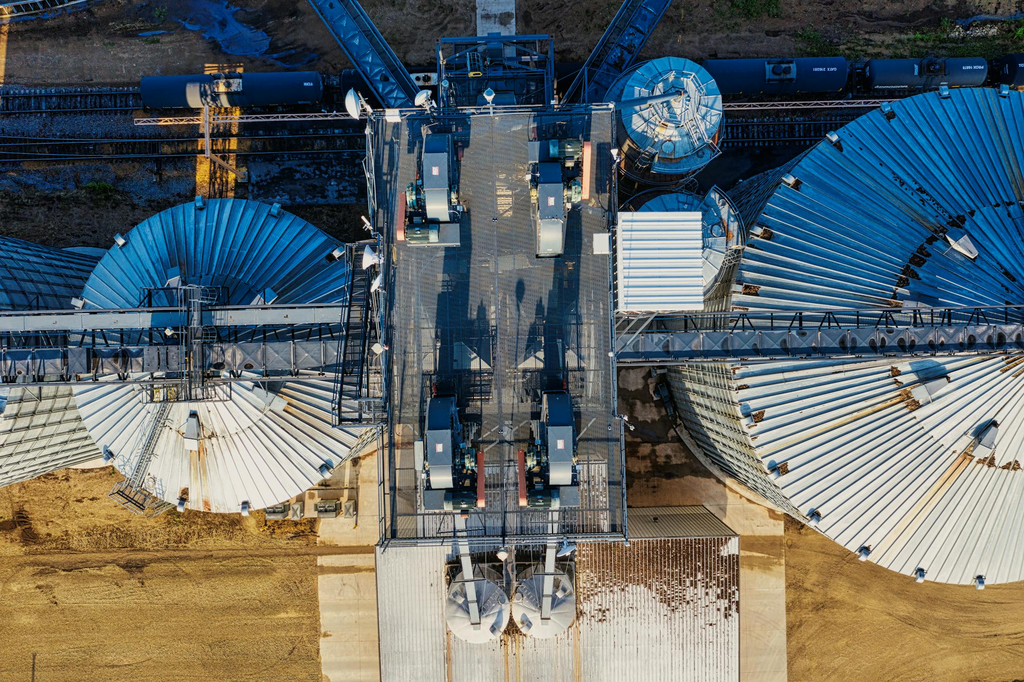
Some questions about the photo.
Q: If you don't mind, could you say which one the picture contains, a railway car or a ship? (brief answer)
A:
railway car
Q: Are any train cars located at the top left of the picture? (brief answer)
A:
Yes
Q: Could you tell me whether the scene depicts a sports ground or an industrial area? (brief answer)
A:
industrial area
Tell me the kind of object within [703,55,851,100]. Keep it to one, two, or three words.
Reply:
rail car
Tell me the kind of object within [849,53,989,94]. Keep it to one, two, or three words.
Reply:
rail car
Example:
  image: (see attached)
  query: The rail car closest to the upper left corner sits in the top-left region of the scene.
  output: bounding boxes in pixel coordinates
[137,69,334,113]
